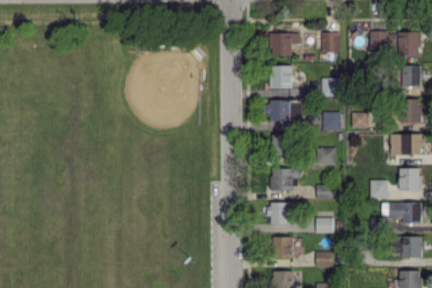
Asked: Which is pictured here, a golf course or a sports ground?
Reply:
sports ground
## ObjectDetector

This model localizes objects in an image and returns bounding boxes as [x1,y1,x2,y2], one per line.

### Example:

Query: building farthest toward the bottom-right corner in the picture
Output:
[400,270,422,288]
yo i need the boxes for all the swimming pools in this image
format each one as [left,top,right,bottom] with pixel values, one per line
[353,35,366,48]
[318,236,330,250]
